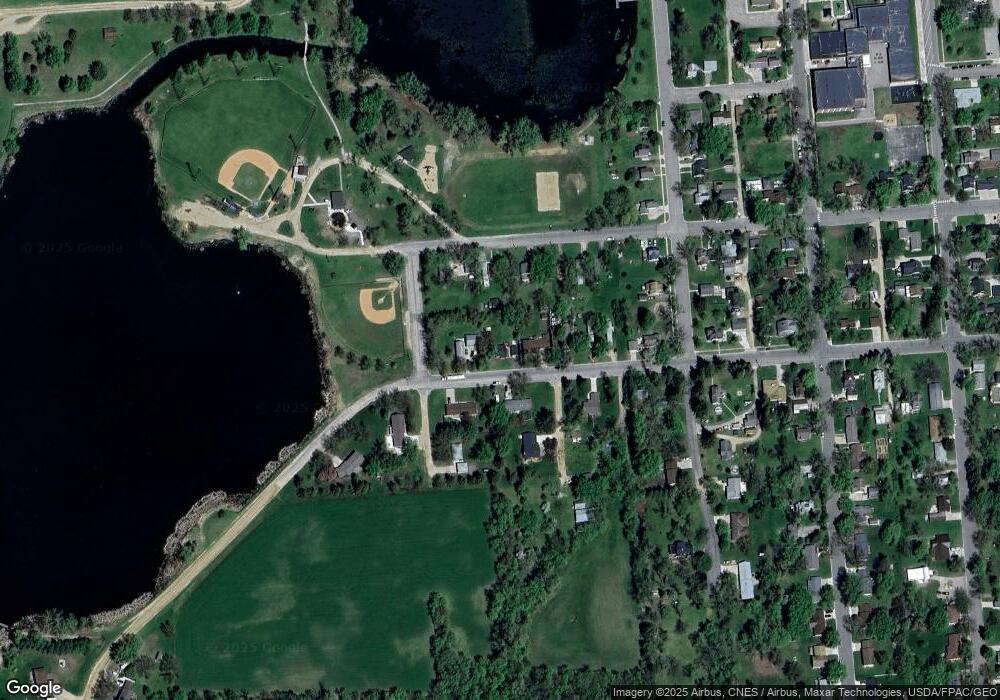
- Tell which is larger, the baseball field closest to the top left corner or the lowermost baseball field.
the baseball field closest to the top left corner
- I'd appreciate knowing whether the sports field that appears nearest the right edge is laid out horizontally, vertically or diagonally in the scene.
horizontally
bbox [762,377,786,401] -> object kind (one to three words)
house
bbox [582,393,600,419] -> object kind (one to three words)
house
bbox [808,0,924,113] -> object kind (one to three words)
building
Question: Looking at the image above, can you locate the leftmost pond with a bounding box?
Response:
[356,0,639,139]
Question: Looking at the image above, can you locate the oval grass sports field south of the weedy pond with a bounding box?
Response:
[452,154,640,231]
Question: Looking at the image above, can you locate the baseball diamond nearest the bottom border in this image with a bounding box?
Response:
[321,277,404,359]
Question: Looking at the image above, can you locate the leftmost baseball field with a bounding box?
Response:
[161,77,317,217]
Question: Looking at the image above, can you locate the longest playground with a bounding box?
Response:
[417,144,438,193]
